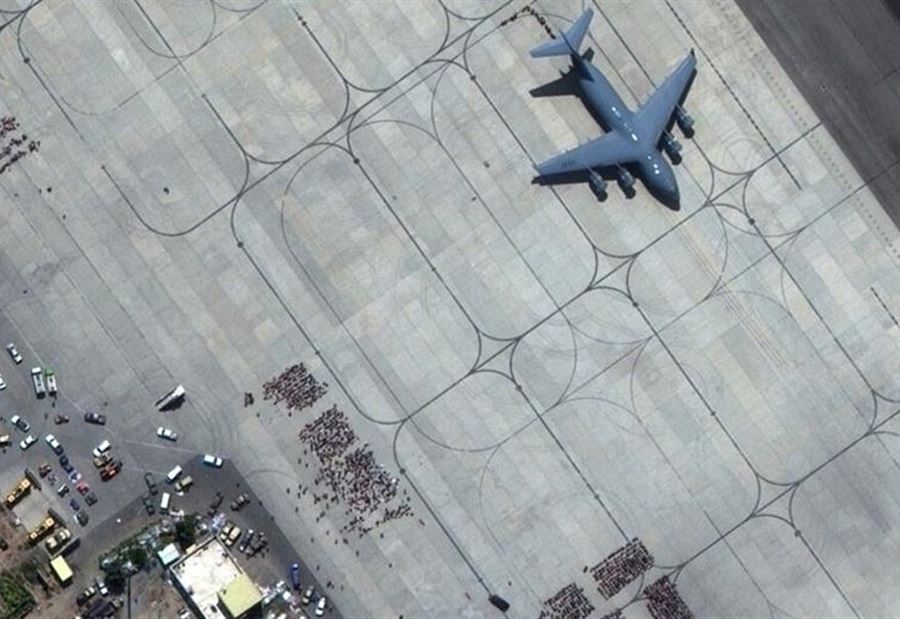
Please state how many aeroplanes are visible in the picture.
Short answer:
1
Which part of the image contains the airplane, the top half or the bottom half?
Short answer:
top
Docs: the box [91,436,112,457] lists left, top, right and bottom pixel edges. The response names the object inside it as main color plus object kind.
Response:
white truck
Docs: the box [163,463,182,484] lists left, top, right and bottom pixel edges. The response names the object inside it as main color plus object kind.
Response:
white vehicle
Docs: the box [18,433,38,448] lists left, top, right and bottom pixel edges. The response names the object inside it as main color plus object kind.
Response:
white car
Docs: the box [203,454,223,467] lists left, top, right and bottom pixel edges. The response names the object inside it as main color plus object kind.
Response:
white vehicle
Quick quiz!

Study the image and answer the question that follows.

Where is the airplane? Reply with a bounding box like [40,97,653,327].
[530,9,695,207]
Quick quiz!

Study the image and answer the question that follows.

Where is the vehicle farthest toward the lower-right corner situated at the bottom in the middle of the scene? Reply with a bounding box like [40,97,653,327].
[489,595,510,613]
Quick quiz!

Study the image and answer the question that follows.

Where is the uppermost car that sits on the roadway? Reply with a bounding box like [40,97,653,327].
[7,343,22,362]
